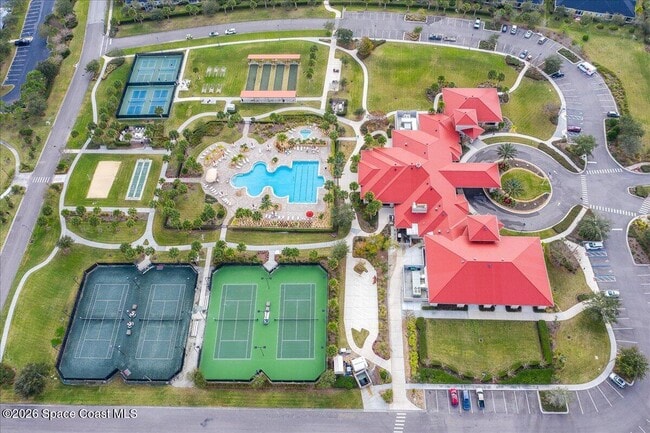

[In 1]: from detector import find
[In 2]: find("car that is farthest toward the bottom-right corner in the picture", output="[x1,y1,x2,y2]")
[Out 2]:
[607,373,627,389]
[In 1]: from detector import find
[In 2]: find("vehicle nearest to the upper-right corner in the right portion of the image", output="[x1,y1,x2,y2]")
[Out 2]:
[576,62,596,74]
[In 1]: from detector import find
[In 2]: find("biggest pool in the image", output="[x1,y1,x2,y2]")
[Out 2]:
[229,160,326,203]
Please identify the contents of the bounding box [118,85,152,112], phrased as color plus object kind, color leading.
blue sports court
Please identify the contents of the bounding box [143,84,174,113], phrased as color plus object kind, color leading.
blue sports court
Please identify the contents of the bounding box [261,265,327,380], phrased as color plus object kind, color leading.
green tennis court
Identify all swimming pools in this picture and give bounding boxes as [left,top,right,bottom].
[299,129,313,138]
[229,160,326,203]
